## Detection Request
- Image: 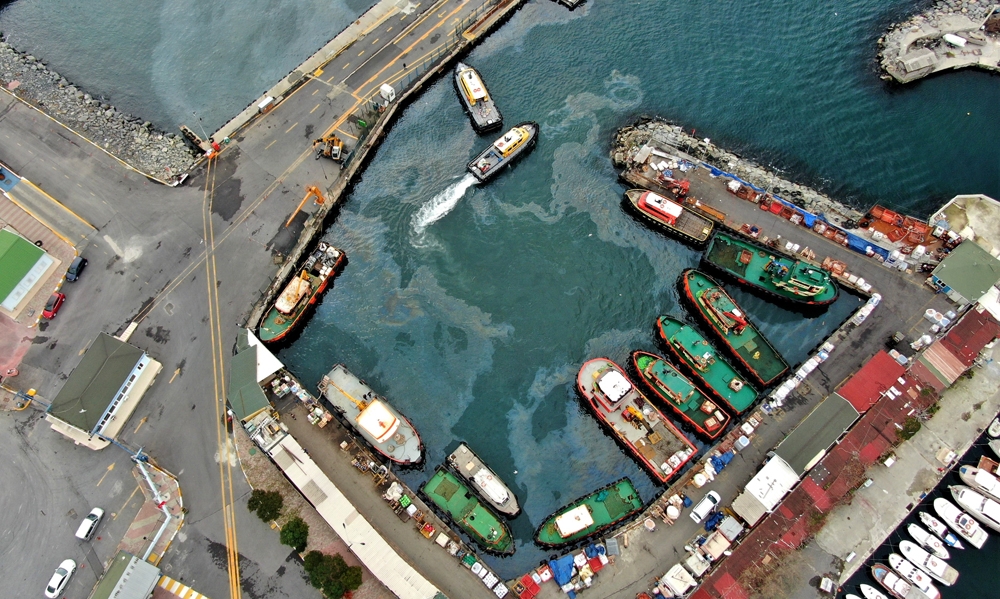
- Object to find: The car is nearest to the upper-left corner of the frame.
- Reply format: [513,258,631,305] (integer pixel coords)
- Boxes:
[63,253,91,283]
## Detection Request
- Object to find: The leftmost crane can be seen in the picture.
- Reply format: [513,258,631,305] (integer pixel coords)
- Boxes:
[286,183,328,226]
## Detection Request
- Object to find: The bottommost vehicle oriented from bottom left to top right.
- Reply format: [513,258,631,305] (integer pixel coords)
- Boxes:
[42,558,79,599]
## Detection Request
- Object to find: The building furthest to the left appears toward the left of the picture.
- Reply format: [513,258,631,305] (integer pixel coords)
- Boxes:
[0,229,61,321]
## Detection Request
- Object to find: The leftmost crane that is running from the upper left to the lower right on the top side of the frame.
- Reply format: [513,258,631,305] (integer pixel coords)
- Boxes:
[652,157,698,194]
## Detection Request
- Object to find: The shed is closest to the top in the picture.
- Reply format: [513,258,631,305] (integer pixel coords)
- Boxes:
[895,48,938,81]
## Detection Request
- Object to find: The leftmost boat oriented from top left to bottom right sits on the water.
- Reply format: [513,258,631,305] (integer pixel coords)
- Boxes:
[310,367,426,468]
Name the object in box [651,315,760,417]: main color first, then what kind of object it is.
green boat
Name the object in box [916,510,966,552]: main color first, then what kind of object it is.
white boat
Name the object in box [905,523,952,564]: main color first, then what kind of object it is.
white boat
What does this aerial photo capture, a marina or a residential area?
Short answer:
marina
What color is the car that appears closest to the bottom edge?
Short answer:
white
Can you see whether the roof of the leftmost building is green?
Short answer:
Yes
